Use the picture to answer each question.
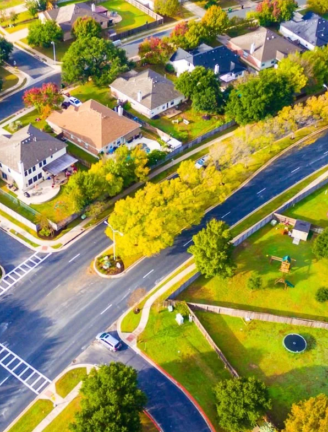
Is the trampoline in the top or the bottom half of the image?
bottom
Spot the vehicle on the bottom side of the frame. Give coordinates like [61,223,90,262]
[95,331,122,351]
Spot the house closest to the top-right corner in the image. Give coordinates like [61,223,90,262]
[281,13,328,55]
